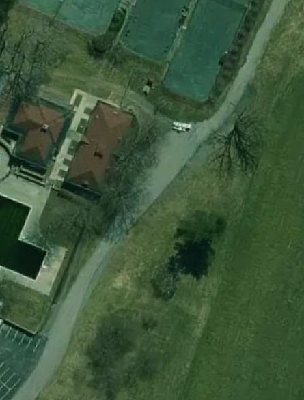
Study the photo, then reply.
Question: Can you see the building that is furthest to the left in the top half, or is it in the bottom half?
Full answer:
The building that is furthest to the left is in the top half of the image.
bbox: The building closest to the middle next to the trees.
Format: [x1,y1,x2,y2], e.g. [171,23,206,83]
[65,100,135,188]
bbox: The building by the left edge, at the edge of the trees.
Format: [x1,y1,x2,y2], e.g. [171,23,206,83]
[3,97,70,167]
